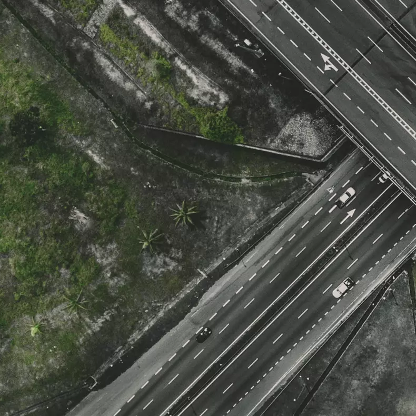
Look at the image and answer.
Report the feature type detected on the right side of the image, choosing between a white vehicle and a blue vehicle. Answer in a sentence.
You can see a white vehicle on the right side of the image.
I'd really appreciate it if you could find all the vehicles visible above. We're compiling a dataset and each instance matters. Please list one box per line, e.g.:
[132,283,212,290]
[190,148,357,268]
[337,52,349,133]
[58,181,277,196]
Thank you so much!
[332,275,356,298]
[334,187,356,210]
[195,326,213,343]
[377,170,390,185]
